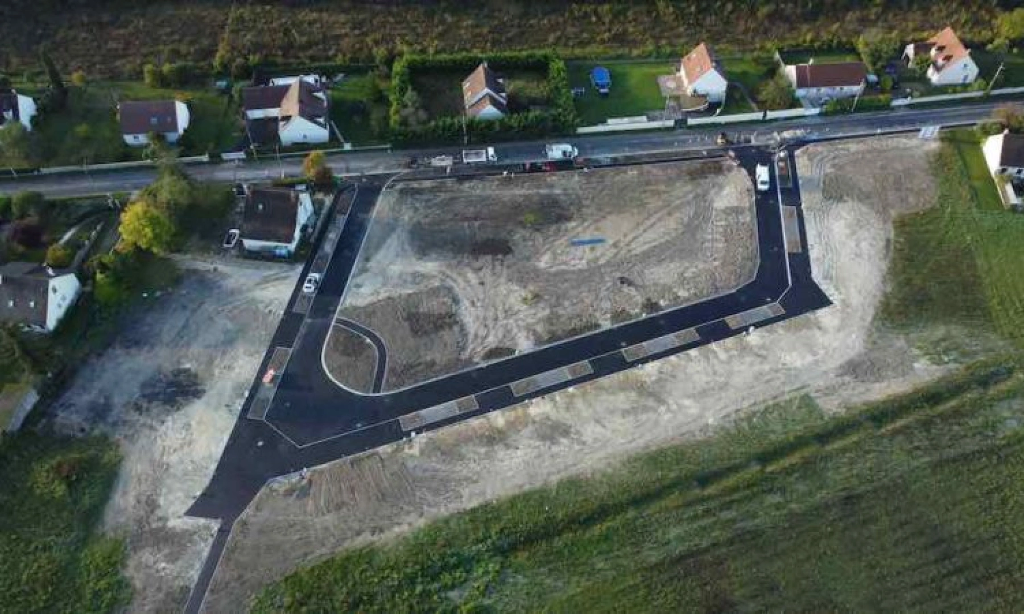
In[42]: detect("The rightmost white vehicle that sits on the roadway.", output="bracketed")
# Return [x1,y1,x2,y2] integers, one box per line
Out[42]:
[757,165,772,189]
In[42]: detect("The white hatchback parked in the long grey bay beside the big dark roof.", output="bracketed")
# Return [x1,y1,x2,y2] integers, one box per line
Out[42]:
[301,269,321,291]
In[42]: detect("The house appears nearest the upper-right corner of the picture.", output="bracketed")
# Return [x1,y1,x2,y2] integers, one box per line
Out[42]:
[902,37,984,89]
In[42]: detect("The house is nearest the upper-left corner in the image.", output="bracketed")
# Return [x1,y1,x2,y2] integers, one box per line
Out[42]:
[0,87,42,138]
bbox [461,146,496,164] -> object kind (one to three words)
vehicle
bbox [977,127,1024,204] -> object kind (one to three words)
house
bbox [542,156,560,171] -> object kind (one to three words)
work vehicle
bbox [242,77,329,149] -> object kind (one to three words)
house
